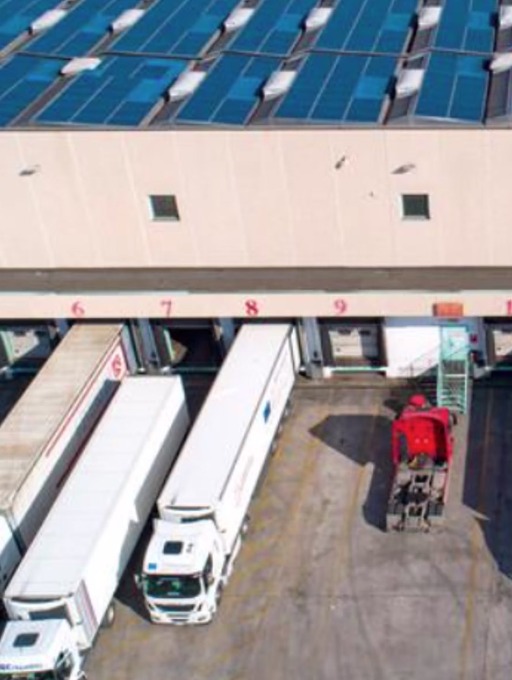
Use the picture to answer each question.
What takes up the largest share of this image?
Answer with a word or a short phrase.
buildings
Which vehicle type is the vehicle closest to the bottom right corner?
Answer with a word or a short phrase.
truck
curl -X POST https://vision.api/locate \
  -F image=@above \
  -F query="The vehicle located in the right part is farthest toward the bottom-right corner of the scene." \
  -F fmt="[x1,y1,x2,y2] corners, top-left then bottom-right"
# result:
[390,413,454,534]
